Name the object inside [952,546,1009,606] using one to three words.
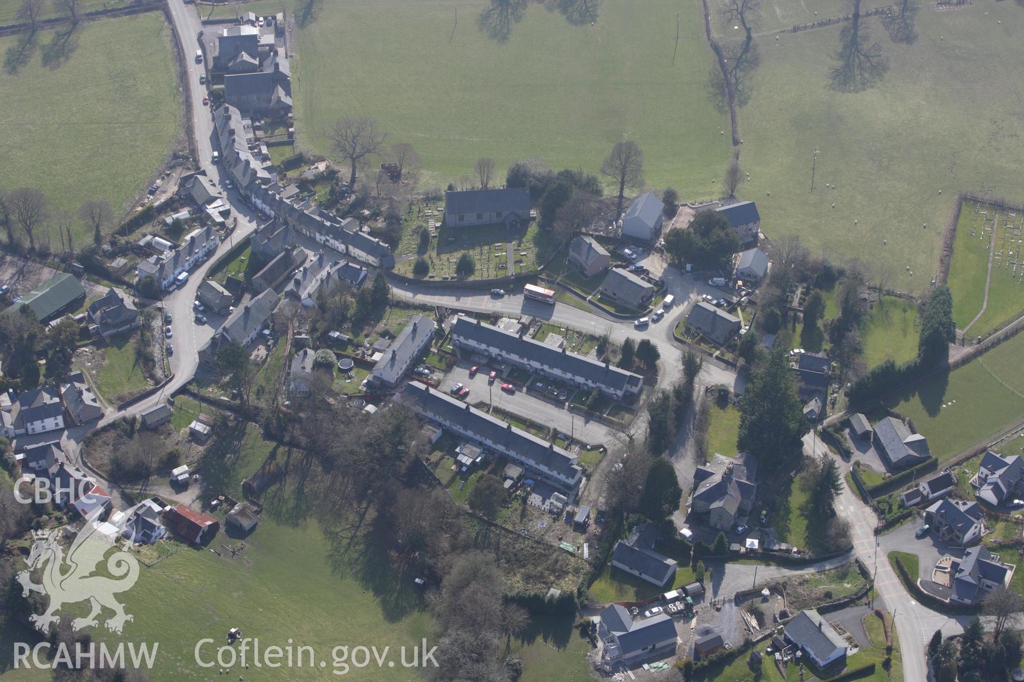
house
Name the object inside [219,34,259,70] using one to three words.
building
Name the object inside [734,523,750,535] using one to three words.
vehicle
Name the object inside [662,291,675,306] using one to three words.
vehicle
